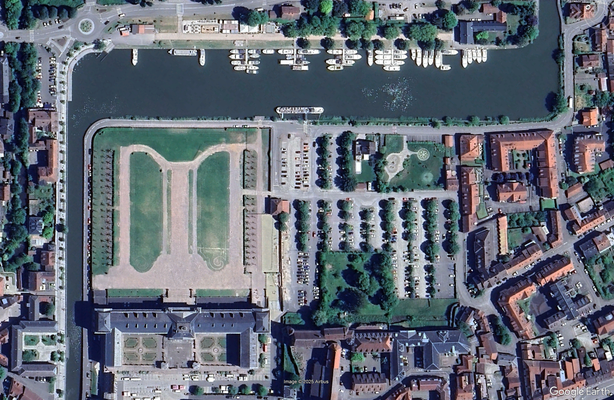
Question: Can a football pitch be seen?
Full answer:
No, no football pitch is visible in the scene.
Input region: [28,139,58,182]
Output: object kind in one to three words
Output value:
building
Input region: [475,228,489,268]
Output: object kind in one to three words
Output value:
house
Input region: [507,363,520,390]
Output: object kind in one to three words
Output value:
house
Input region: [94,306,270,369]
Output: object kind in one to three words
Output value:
building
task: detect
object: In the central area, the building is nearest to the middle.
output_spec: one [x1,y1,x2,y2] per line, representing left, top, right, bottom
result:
[270,198,290,214]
